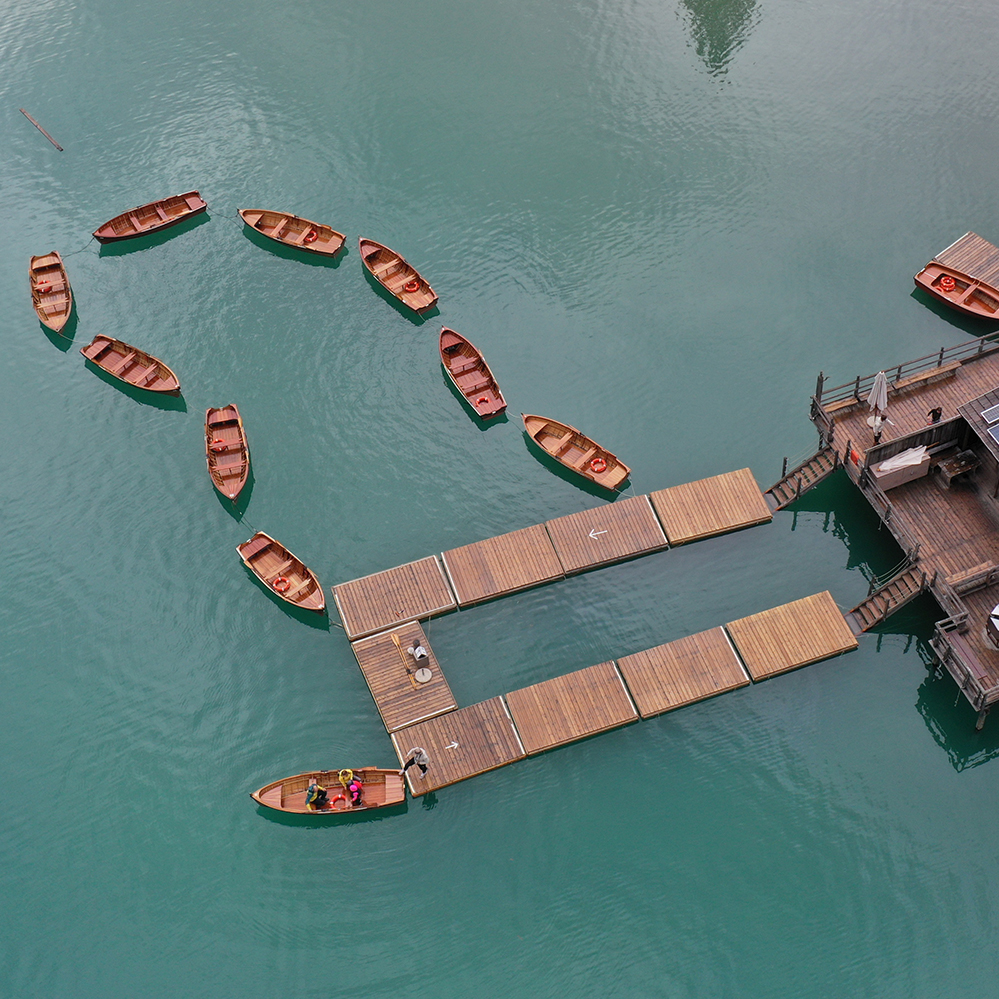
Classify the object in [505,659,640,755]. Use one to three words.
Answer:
pier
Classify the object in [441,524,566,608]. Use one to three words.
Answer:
pier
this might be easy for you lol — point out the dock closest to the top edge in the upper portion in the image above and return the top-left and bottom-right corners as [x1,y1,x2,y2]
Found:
[934,230,999,300]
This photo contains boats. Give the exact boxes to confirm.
[358,234,439,315]
[234,528,328,617]
[28,250,72,336]
[522,411,631,492]
[92,188,207,243]
[79,333,180,394]
[915,260,999,322]
[237,206,346,259]
[440,323,507,420]
[204,402,249,501]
